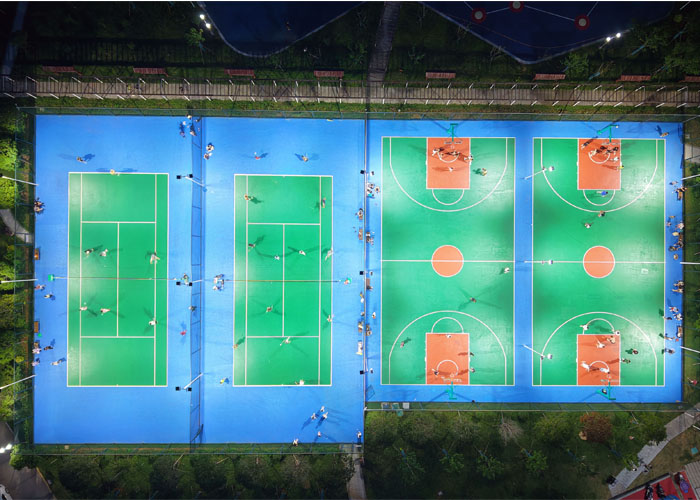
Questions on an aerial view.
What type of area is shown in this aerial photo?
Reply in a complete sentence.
It's a sports ground.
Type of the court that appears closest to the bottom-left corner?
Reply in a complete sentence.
It turns out the court that appears closest to the bottom-left corner is a tennis court.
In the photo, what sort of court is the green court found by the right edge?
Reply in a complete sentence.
From above, the green court found by the right edge can be identified as a basketball court.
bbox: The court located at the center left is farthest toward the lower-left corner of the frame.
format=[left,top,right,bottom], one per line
[68,173,167,386]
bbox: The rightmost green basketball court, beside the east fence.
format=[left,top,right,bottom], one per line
[533,137,665,386]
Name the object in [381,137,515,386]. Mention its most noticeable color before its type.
green basketball court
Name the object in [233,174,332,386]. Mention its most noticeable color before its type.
green tennis court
